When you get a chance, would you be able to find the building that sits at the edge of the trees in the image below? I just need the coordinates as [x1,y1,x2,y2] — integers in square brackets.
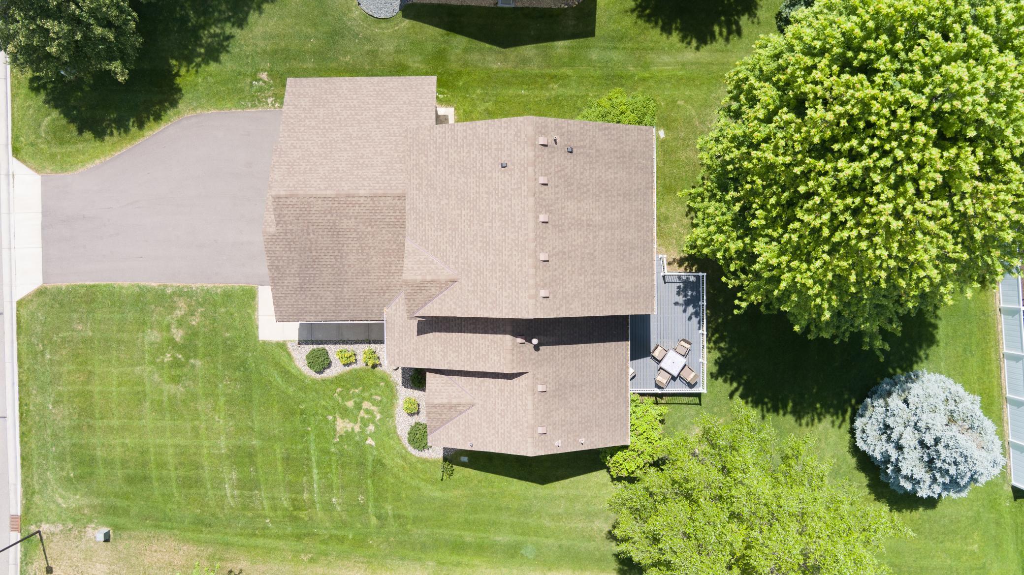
[263,75,658,457]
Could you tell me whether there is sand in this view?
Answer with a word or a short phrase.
No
